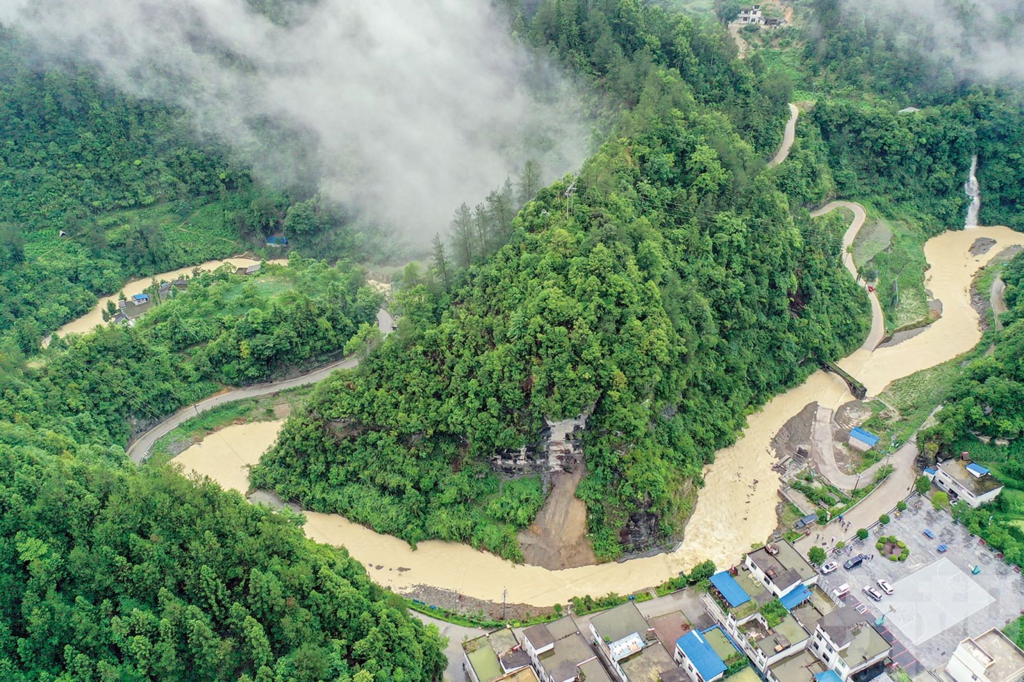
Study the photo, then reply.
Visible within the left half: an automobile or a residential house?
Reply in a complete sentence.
There is a residential house within the left half.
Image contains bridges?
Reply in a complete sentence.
Yes, there is a bridge in the image.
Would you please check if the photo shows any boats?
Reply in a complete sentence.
No, the photo shows no boat.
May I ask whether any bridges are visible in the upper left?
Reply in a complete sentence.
No, the scene shows no bridge in the upper left.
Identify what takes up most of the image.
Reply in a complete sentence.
The bulk of the photo consists of trees.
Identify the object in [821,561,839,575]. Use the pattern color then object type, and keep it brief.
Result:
white car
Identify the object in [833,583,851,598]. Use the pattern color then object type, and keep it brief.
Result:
white vehicle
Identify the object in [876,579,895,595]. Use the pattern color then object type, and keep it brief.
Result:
white car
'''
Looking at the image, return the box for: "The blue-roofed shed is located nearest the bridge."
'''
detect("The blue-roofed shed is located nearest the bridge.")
[847,427,881,451]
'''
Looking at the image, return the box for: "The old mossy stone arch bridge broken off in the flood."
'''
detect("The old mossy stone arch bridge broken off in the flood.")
[820,361,867,402]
